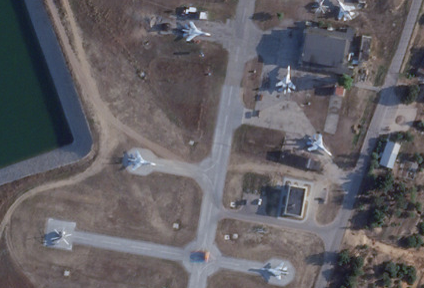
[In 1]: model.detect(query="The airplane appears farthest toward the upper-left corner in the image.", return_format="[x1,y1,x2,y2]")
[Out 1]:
[180,20,211,41]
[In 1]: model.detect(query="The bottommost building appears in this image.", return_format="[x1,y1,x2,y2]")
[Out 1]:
[285,186,307,218]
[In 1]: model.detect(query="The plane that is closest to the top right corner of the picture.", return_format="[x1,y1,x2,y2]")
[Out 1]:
[336,0,356,24]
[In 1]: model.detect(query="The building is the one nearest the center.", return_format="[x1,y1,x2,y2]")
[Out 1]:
[279,152,309,171]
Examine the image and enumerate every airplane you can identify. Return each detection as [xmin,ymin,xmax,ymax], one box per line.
[306,132,331,155]
[127,152,156,171]
[279,66,298,95]
[180,20,211,41]
[336,0,356,24]
[259,262,292,282]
